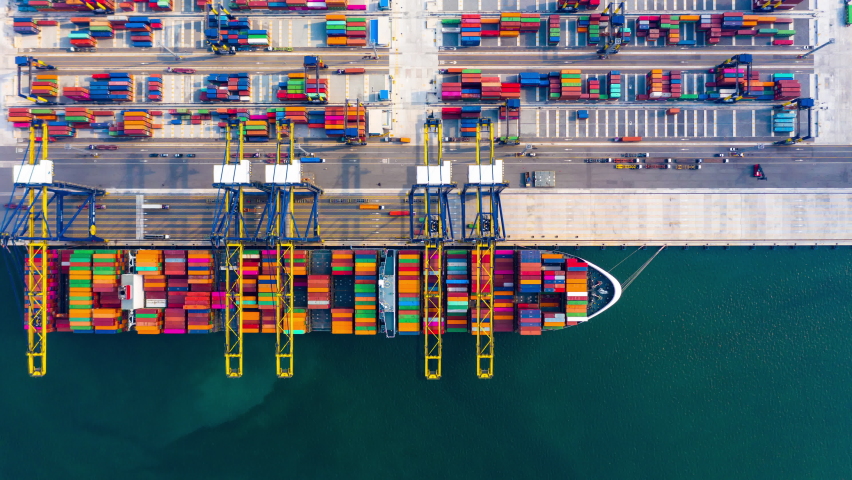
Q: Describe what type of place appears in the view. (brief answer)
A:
port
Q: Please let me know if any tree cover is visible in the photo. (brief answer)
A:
No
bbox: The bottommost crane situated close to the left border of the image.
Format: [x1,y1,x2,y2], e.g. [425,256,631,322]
[0,113,107,380]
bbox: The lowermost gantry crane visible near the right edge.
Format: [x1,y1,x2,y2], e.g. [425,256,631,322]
[772,97,815,146]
